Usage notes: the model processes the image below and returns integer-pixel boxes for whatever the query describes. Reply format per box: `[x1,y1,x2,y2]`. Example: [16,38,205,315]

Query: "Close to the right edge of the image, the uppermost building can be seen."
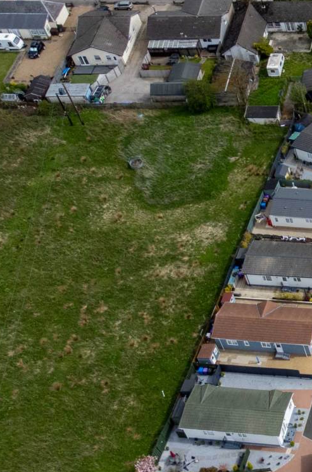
[222,0,312,65]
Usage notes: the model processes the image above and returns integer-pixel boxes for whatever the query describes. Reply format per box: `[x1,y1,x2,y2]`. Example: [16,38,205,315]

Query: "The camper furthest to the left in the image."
[0,34,28,55]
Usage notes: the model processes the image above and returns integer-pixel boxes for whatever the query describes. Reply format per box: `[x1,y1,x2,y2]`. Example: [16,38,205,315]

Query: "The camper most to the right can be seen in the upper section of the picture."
[267,55,287,78]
